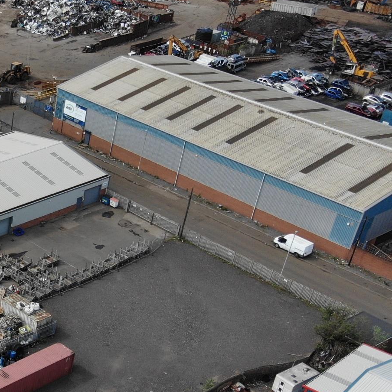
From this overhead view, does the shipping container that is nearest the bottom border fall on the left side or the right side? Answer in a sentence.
The shipping container that is nearest the bottom border appears in the left half of the scene.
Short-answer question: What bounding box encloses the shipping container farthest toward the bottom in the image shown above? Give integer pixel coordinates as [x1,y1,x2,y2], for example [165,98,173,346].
[0,342,75,392]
